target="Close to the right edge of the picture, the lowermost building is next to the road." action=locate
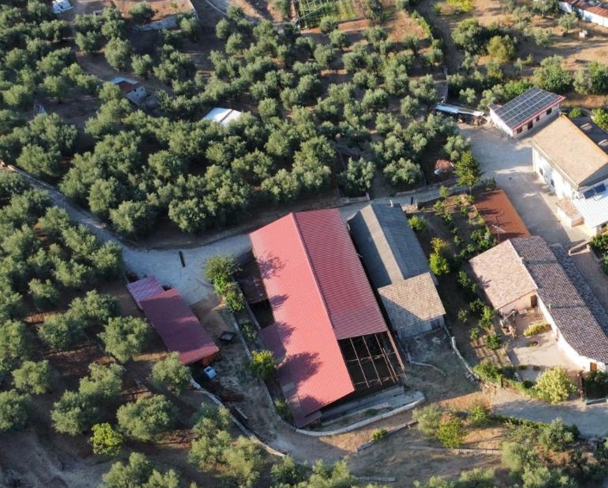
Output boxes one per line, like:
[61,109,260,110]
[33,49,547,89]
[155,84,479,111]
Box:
[469,236,608,380]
